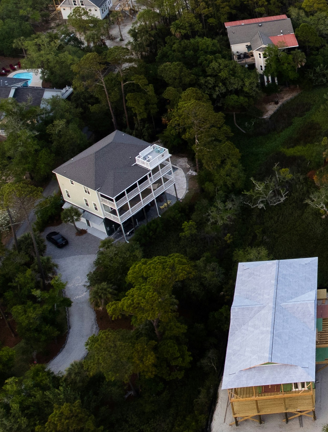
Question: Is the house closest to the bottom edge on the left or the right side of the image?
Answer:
right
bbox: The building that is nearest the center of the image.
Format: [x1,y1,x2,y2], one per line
[53,131,181,236]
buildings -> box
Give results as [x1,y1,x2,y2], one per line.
[0,77,94,150]
[225,13,298,86]
[44,0,144,34]
[222,257,328,430]
[53,131,181,236]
